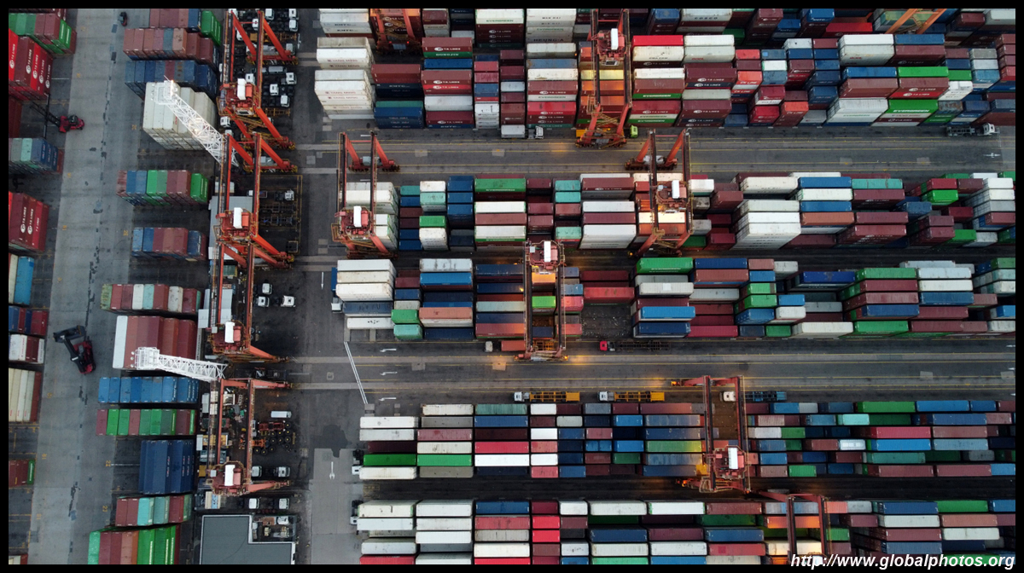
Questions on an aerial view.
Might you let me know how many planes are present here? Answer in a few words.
0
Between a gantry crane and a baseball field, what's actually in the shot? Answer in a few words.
gantry crane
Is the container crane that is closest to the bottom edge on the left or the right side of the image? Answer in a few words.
right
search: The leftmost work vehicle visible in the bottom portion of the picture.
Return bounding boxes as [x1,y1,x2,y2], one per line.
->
[47,323,96,377]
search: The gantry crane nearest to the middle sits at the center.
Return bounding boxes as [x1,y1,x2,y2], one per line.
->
[513,238,570,362]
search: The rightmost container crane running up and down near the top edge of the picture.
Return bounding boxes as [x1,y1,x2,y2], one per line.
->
[574,7,633,146]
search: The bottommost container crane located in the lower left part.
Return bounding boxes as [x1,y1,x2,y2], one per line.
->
[201,378,299,500]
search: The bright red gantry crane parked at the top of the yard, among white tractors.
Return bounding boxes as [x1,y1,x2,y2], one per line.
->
[214,9,303,148]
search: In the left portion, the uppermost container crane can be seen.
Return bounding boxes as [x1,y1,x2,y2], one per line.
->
[353,0,420,54]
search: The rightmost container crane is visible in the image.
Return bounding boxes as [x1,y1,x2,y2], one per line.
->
[884,0,955,35]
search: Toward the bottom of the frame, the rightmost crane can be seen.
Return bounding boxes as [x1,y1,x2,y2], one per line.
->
[739,487,833,573]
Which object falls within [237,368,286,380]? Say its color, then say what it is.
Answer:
black vehicle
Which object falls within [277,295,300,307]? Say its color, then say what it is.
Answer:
white vehicle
